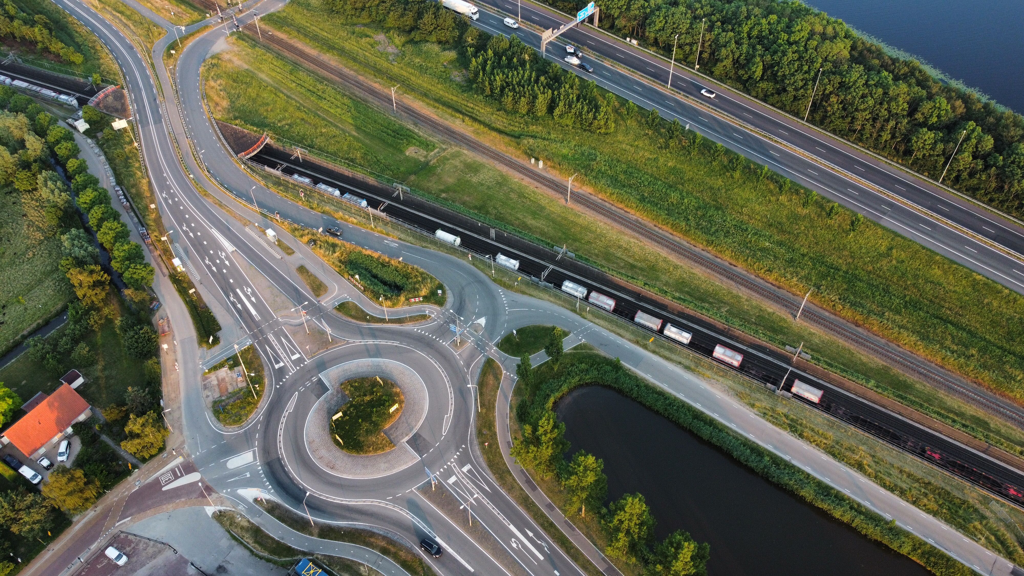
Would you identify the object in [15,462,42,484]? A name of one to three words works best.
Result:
vehicle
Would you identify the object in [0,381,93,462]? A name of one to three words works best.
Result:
house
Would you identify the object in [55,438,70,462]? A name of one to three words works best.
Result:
car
